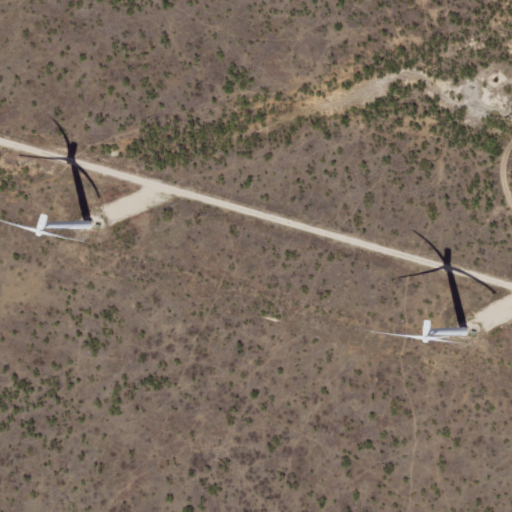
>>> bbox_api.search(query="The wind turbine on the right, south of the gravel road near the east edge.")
[378,321,482,345]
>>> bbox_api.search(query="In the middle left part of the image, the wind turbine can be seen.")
[0,212,94,238]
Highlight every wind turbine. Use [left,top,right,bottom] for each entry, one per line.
[378,321,482,345]
[0,212,94,238]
